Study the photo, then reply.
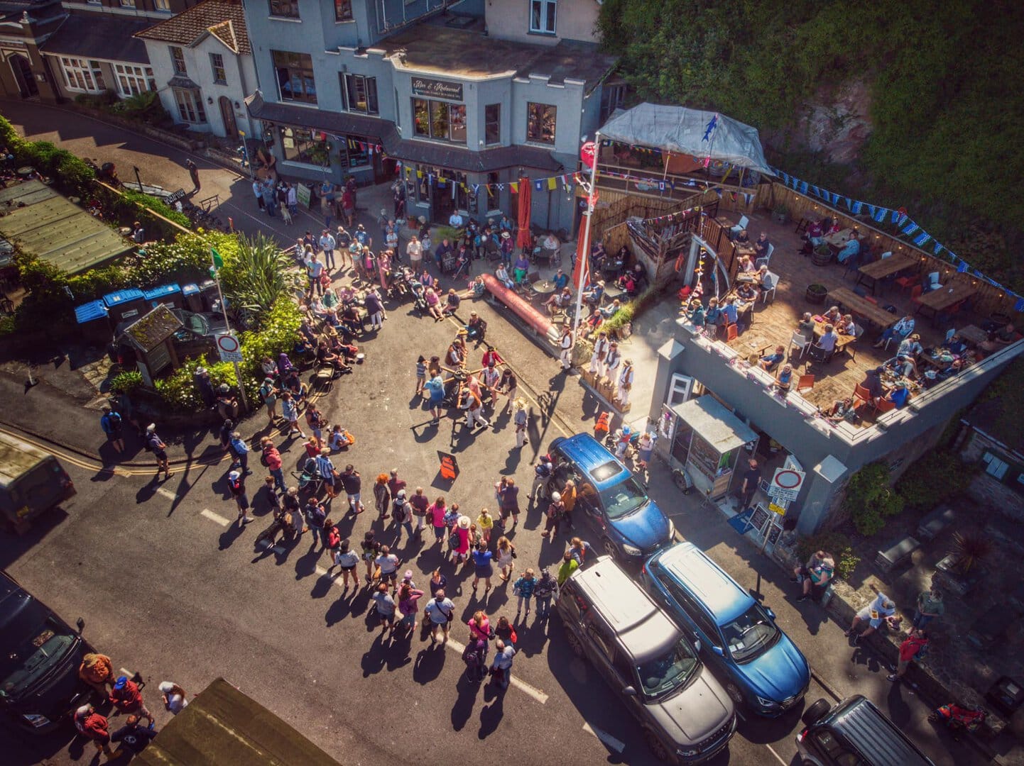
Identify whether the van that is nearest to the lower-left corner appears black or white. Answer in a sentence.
The color of the van that is nearest to the lower-left corner is black.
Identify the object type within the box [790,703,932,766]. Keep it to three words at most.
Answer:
car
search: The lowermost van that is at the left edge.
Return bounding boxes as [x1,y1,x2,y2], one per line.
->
[0,612,98,766]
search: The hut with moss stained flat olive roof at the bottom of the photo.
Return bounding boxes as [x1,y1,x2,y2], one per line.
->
[137,679,339,766]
